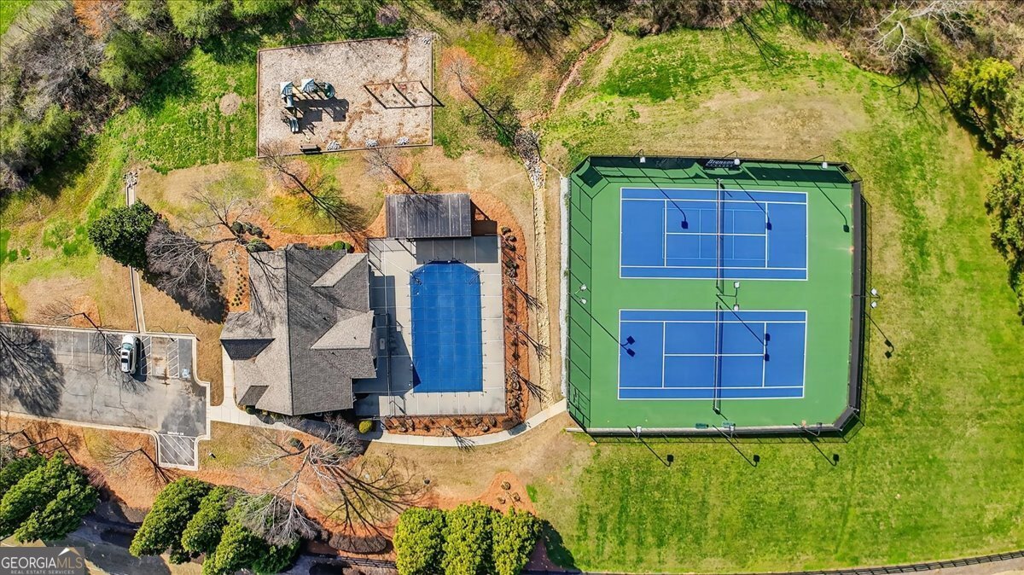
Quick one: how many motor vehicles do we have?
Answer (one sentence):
Altogether the scene contains 1 motor vehicle.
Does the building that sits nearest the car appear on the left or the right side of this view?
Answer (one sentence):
It is on the left.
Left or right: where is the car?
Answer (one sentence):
The car sits on the left side.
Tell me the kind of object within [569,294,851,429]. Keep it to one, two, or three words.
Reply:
tennis court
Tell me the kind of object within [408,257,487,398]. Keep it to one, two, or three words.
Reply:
swimming pool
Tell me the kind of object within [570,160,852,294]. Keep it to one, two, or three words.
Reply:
tennis court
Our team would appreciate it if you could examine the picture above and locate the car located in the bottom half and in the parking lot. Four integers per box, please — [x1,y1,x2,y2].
[117,335,140,375]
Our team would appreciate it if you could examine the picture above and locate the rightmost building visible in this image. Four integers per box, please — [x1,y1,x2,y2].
[385,193,471,239]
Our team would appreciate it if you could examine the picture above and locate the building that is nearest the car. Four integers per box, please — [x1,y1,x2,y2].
[221,249,379,414]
